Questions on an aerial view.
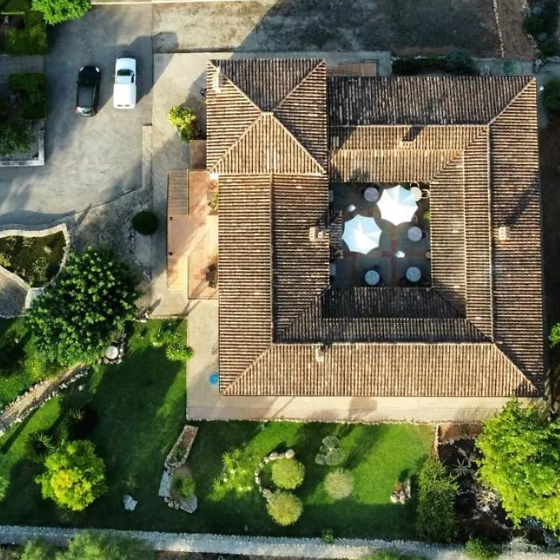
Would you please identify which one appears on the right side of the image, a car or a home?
home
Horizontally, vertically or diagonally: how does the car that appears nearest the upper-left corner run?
vertically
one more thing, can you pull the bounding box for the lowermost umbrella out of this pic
[345,215,378,252]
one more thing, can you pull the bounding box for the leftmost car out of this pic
[75,66,101,115]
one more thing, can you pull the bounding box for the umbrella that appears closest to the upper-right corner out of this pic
[376,184,415,225]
